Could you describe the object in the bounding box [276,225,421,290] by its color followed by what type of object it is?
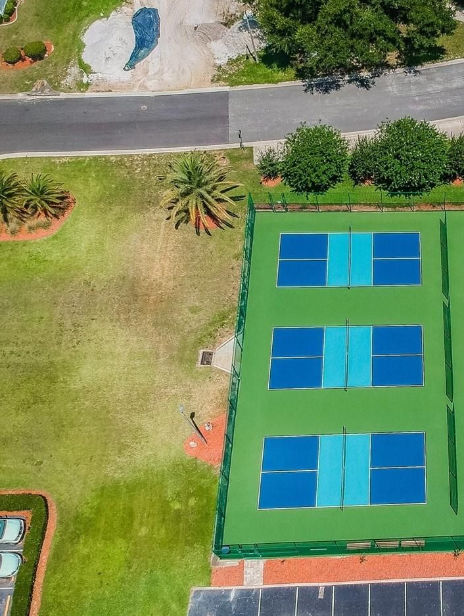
blue sports court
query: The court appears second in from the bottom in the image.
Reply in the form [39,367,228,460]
[268,317,424,392]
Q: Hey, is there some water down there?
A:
No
